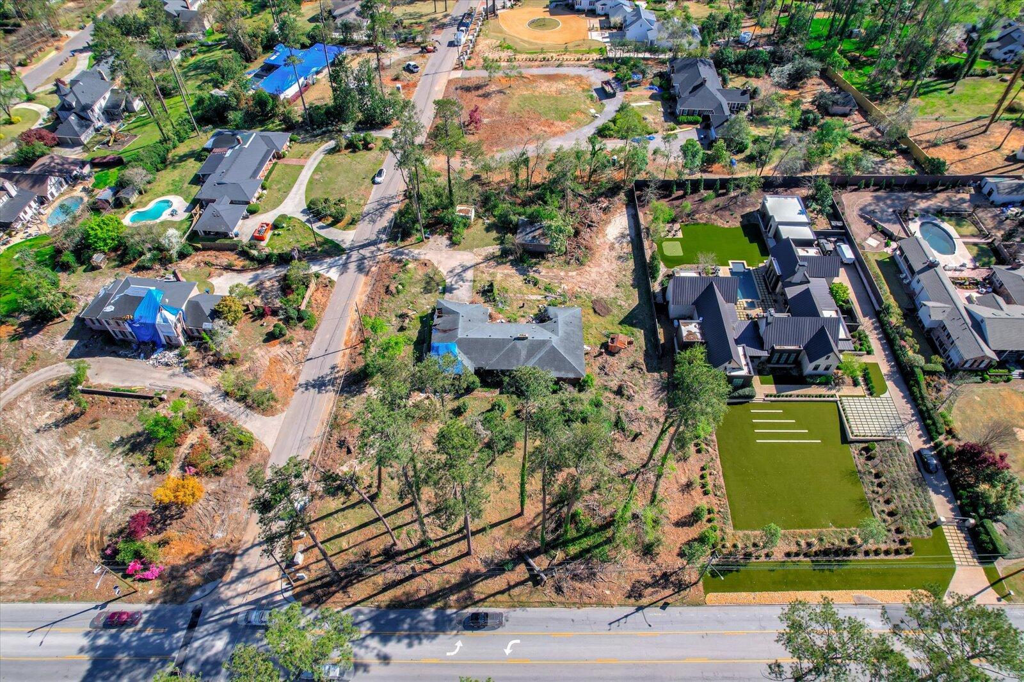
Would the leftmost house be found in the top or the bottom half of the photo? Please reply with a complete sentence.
It is in the top half that the leftmost house appears.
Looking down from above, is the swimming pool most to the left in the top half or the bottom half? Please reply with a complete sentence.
Seen from above, the swimming pool most to the left lies in the top half of the view.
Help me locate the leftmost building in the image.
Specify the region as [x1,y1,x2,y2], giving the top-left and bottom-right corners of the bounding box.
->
[0,150,89,233]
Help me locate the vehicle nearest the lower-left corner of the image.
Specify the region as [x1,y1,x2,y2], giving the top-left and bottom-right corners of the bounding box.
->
[99,610,140,628]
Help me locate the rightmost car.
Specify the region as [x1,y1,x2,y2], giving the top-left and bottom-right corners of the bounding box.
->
[914,445,945,474]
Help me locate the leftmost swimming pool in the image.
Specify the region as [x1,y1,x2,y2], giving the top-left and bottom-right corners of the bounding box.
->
[46,194,84,228]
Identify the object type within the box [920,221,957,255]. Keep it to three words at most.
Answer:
swimming pool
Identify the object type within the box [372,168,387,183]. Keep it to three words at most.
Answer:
car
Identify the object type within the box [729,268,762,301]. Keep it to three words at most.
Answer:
swimming pool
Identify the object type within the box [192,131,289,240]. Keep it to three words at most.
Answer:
house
